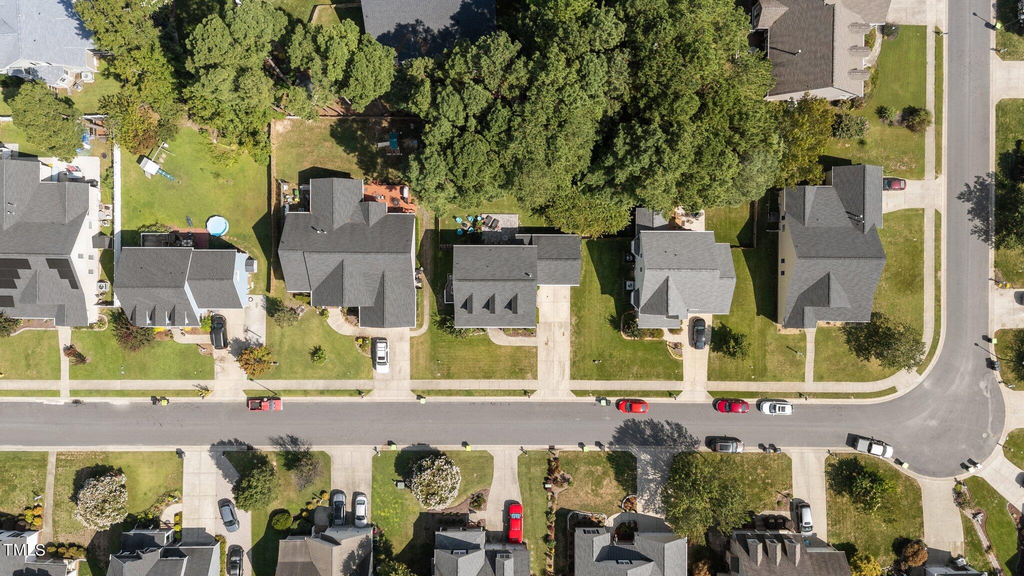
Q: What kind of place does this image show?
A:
residential area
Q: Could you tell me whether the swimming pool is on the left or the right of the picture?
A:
left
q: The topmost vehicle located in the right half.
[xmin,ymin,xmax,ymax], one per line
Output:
[883,177,907,191]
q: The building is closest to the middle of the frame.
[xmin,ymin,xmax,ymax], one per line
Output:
[444,234,582,329]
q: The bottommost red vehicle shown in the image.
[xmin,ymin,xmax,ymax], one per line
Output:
[508,504,523,543]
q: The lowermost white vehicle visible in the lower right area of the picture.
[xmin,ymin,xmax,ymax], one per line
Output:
[797,503,815,535]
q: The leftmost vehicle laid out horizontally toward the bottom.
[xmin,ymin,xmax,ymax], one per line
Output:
[248,398,283,413]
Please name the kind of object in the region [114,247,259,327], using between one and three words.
house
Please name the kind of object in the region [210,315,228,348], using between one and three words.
car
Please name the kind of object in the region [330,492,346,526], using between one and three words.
car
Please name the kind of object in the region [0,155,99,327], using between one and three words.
house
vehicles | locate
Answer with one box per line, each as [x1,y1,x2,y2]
[618,399,648,414]
[294,189,302,200]
[353,494,368,527]
[330,492,346,526]
[853,436,892,457]
[716,399,748,414]
[227,545,244,576]
[221,500,240,531]
[248,398,283,413]
[711,438,743,454]
[210,315,228,348]
[797,503,815,535]
[883,177,907,191]
[760,401,794,416]
[374,340,389,372]
[692,319,707,349]
[508,504,523,543]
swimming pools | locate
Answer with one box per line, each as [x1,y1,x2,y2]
[200,214,228,237]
